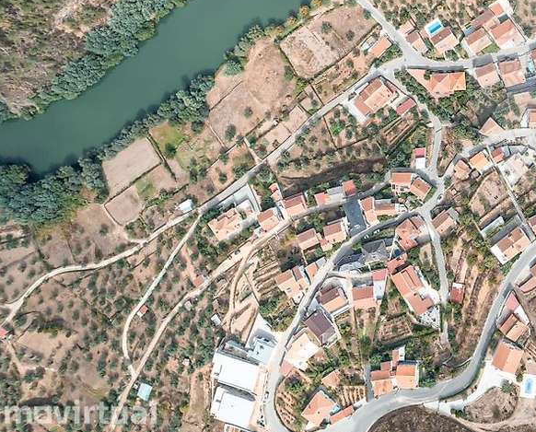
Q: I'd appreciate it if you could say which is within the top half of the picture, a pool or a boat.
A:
pool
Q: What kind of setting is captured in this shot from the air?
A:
residential area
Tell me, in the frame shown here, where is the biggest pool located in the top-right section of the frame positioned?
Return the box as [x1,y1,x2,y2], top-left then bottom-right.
[422,16,447,39]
